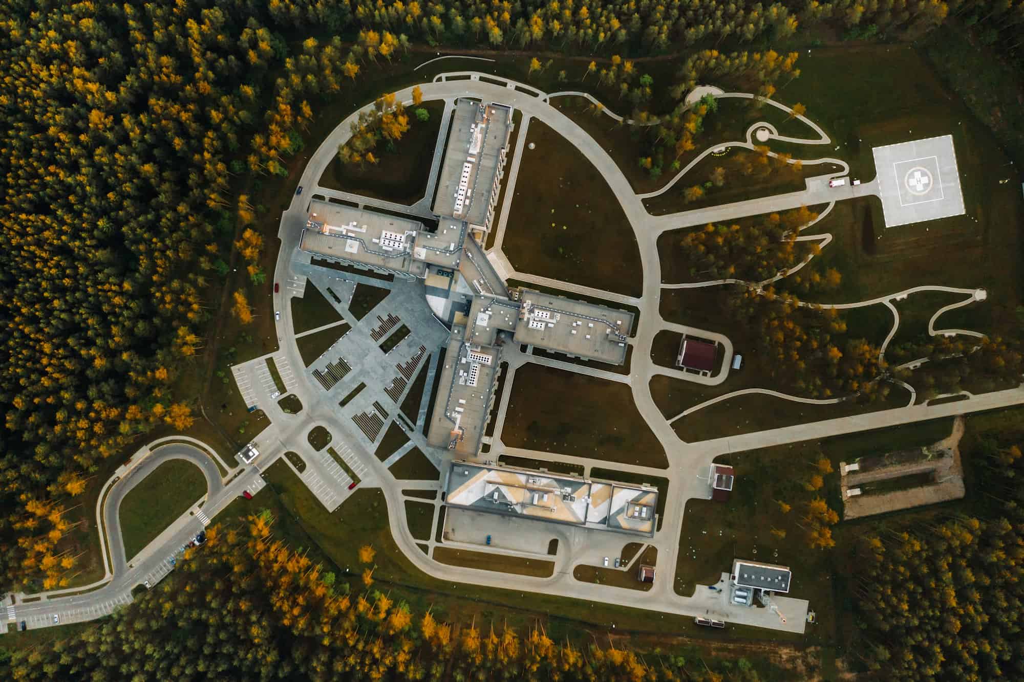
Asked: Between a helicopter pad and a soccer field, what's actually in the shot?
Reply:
helicopter pad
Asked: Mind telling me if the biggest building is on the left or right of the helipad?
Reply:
on its left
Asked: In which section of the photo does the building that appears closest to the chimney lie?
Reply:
bottom right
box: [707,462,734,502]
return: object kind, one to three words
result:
shed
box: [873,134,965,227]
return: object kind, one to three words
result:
helipad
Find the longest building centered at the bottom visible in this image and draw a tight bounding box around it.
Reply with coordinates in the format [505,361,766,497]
[445,458,658,537]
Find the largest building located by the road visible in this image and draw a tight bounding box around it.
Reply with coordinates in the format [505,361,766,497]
[299,97,635,457]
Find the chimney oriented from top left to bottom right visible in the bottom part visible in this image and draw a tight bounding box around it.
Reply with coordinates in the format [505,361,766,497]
[761,593,787,624]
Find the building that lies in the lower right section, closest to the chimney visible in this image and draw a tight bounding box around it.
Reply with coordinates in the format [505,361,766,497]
[728,557,791,593]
